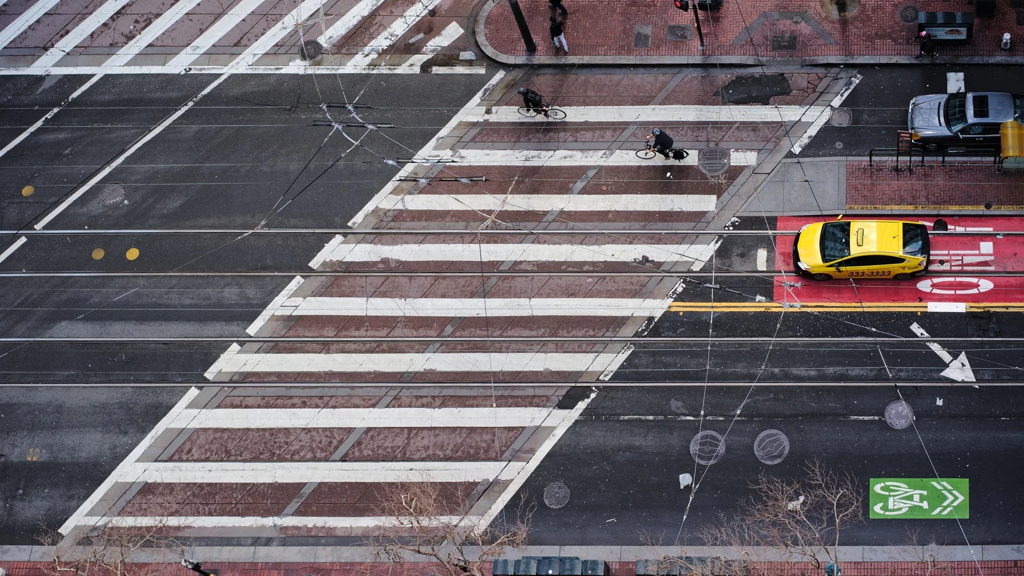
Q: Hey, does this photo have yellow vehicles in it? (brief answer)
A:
Yes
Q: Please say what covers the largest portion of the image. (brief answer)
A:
paved ground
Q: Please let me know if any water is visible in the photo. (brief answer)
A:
No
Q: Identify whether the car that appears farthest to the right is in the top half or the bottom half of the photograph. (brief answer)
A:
top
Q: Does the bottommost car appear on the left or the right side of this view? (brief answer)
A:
right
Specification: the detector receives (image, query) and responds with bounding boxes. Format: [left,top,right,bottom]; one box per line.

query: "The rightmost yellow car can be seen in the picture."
[792,213,931,279]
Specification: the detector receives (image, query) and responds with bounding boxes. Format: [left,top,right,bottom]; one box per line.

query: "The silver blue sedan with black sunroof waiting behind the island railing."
[907,86,1024,150]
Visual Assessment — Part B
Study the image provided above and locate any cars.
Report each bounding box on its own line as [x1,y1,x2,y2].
[792,213,931,279]
[907,86,1024,150]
